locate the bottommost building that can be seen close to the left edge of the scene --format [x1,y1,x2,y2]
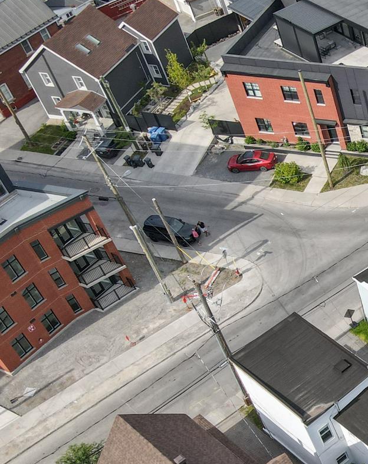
[0,159,141,373]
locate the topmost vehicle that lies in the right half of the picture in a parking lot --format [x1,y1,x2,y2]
[221,149,276,173]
